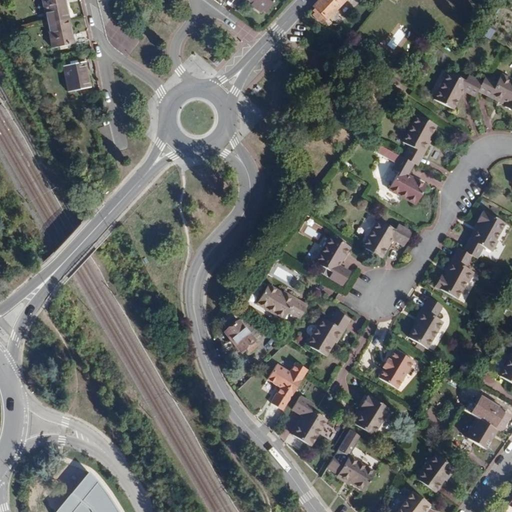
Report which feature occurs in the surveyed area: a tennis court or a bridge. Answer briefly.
bridge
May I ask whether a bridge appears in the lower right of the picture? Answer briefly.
No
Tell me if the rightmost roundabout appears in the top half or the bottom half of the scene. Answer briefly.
top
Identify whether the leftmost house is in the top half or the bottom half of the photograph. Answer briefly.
top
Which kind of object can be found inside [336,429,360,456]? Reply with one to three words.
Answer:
barn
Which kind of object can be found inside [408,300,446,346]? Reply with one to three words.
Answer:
house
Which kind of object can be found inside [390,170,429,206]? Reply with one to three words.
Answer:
house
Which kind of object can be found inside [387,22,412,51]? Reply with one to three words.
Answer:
building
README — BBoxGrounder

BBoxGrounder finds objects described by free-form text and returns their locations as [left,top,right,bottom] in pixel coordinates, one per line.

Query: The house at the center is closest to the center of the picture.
[260,286,310,320]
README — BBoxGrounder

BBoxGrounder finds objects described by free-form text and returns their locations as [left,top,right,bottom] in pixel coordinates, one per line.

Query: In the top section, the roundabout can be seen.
[158,79,237,158]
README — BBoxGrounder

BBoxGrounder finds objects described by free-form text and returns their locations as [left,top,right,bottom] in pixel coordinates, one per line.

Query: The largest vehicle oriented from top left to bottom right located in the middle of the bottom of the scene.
[268,446,293,473]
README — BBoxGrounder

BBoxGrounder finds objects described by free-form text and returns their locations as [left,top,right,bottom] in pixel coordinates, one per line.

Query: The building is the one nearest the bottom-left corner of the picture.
[58,472,116,512]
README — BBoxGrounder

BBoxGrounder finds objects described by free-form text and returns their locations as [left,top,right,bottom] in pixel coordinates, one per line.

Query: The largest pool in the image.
[379,162,396,187]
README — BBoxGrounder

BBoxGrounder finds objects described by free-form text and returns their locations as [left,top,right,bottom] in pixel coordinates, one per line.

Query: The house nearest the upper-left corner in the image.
[40,0,76,50]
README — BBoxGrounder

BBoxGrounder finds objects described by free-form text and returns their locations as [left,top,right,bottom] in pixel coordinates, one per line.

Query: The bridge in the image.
[44,211,106,288]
